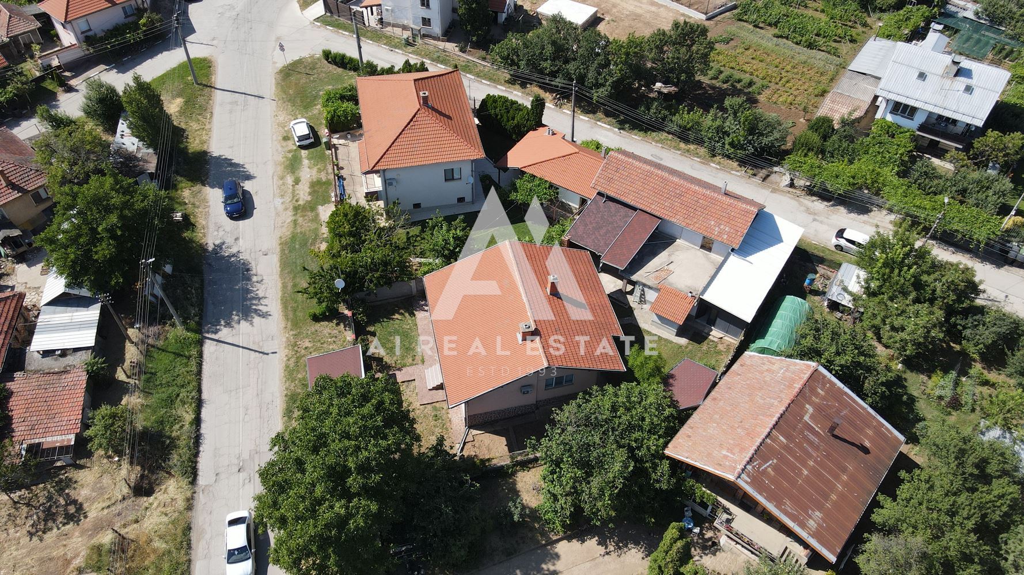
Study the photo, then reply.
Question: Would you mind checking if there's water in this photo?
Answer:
No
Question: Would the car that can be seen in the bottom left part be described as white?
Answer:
Yes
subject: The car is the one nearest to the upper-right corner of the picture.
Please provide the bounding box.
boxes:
[834,230,882,262]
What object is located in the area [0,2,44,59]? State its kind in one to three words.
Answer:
house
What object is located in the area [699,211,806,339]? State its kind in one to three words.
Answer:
building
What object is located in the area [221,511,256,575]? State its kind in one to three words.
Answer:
car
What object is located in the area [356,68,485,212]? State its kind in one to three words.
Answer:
house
